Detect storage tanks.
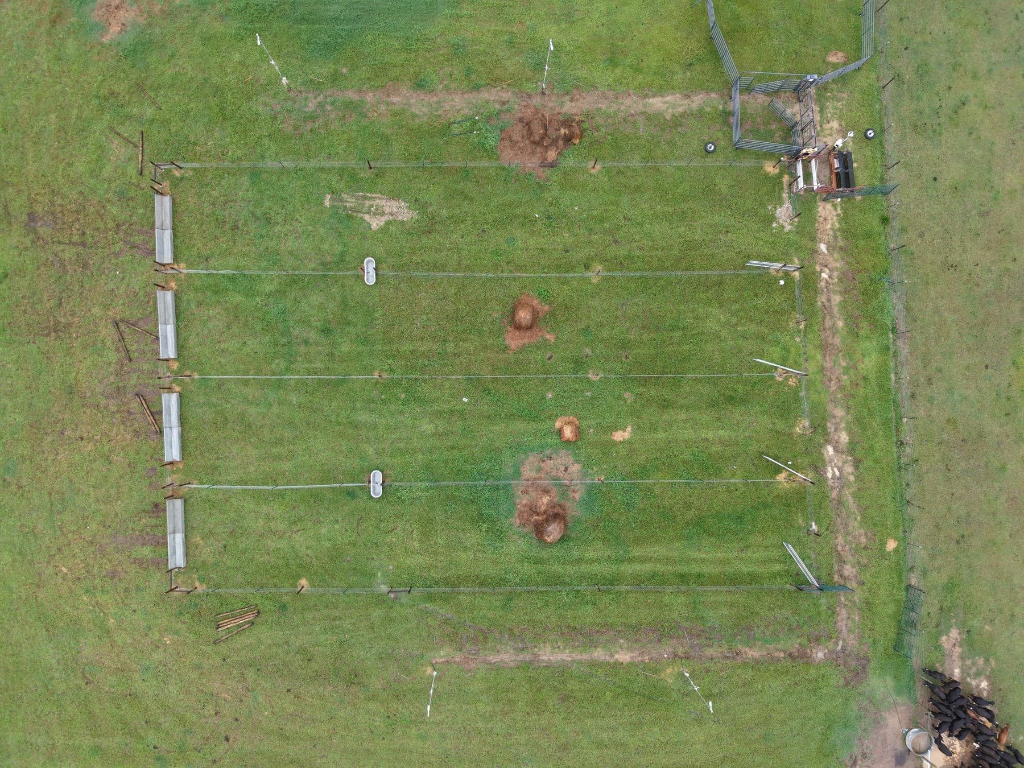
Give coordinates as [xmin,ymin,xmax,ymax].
[906,729,936,758]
